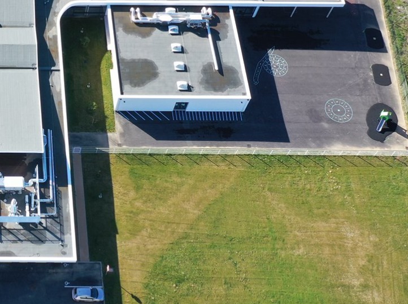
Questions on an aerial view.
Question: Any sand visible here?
No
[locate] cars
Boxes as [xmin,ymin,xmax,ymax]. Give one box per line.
[72,286,103,304]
